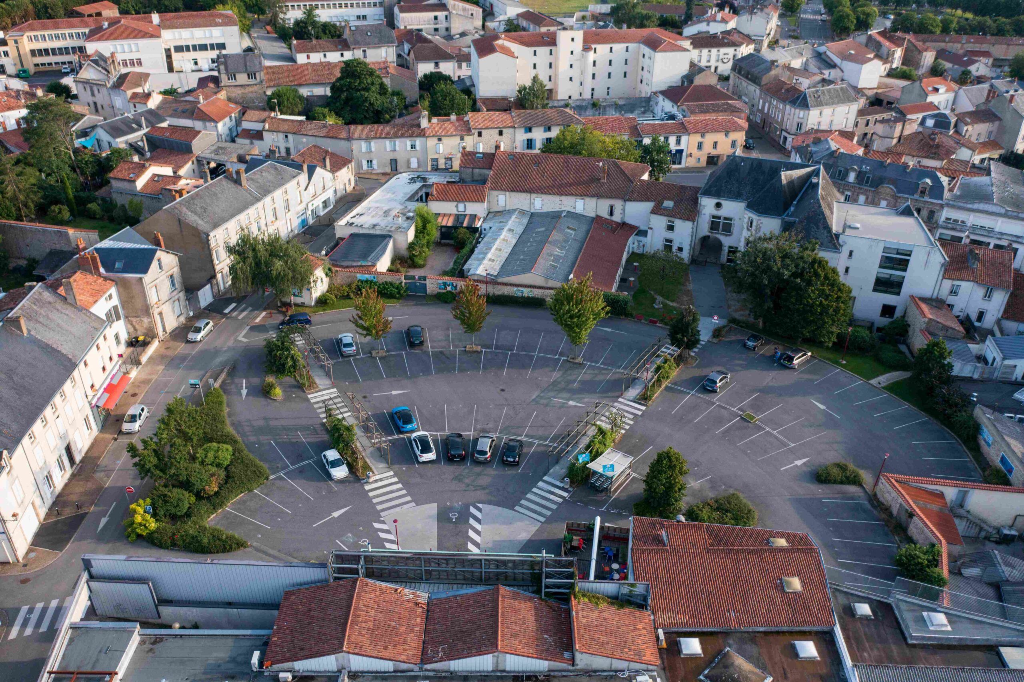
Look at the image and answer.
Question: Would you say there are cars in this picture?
Yes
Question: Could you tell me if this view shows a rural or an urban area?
urban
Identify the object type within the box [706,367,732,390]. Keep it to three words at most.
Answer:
car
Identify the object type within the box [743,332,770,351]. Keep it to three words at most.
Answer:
car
